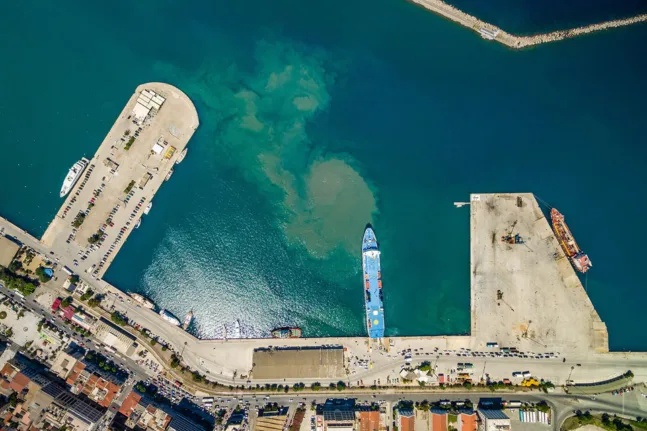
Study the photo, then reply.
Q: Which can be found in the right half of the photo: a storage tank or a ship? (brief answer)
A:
ship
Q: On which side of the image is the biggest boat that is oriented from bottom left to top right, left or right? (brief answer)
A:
left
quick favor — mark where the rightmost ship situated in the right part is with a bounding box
[533,194,591,291]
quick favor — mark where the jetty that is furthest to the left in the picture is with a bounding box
[40,82,200,279]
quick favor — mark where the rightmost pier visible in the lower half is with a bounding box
[469,193,608,352]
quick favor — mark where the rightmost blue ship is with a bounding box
[361,222,391,341]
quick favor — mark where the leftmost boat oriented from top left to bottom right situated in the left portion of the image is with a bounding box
[130,291,156,311]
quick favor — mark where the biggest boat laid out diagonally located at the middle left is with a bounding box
[62,156,90,197]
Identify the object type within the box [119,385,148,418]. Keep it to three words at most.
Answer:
building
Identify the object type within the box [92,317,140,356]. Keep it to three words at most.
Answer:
building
